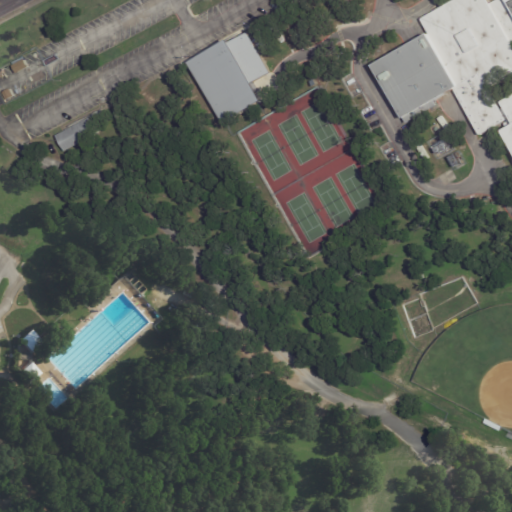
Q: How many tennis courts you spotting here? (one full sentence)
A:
The picture shows 6 tennis courts.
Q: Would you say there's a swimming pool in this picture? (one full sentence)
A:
Yes, there's a swimming pool down there.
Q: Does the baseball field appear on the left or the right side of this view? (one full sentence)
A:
The baseball field appears in the right half of the scene.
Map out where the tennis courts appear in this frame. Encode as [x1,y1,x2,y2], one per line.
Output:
[268,102,327,178]
[302,164,361,236]
[327,150,386,224]
[238,116,303,194]
[292,86,351,164]
[274,178,335,254]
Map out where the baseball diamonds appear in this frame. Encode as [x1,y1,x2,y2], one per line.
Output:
[411,304,512,432]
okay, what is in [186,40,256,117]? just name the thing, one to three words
building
